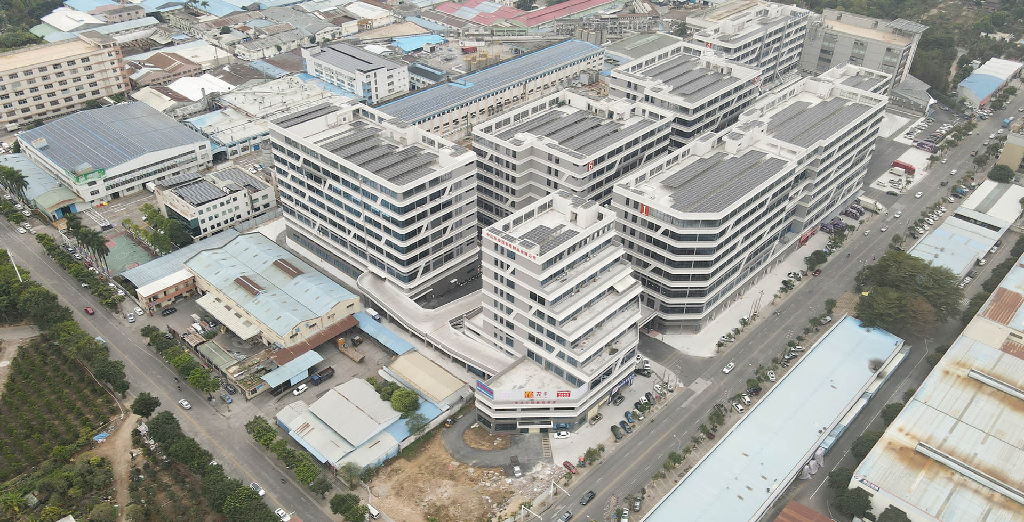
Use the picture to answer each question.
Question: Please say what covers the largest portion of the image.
buildings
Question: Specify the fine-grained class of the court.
basketball court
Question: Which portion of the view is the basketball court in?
left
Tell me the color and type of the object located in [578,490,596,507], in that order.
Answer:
gray car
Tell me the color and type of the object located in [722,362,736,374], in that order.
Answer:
white vehicle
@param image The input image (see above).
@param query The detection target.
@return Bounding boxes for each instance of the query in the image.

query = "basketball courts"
[86,234,152,291]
